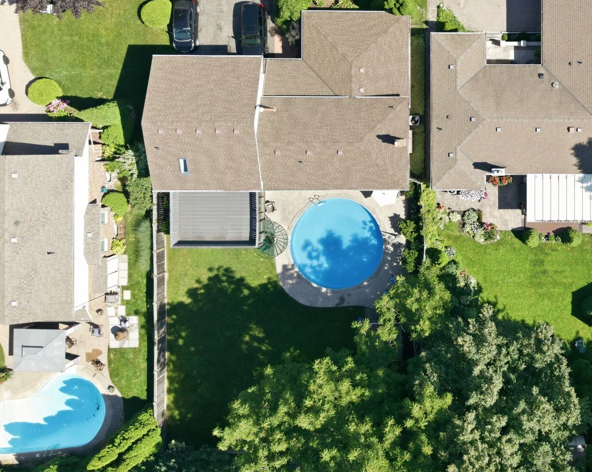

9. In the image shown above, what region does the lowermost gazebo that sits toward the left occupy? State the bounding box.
[13,321,83,374]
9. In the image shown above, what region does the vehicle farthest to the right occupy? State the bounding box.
[239,3,271,57]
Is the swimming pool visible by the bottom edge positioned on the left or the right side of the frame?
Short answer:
left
